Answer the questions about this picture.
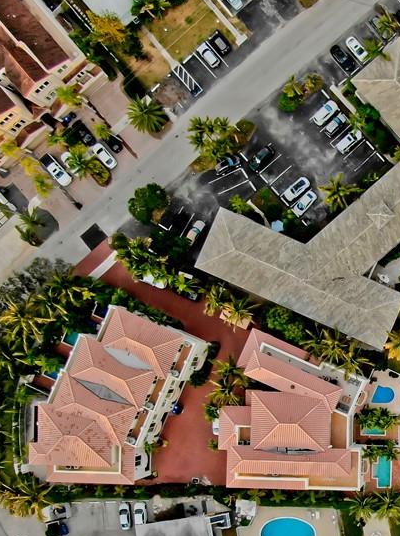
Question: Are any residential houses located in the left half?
Yes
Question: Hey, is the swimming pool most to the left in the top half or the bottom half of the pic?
bottom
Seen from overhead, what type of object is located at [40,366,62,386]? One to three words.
swimming pool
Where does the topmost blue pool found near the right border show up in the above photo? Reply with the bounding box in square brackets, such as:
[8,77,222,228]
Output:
[370,383,397,405]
